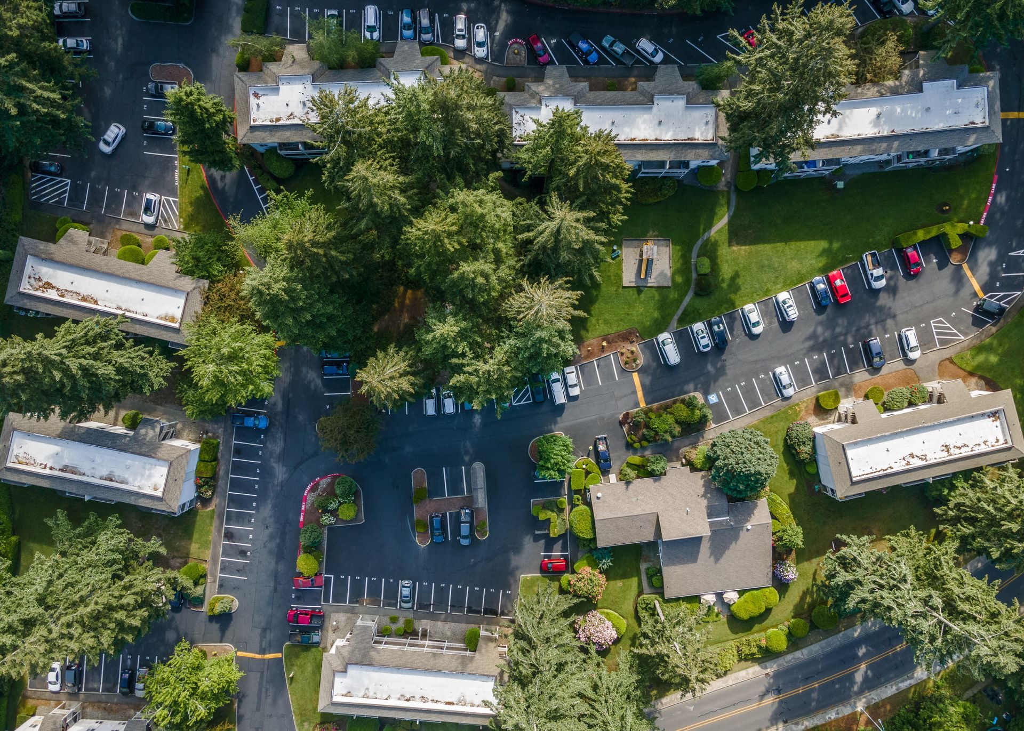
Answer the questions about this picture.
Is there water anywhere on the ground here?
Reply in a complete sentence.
No, no water is visible.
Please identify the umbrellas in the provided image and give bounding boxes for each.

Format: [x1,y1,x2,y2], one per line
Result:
[722,590,738,604]
[699,593,715,606]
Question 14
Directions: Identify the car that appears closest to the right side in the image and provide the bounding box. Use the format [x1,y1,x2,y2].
[977,296,1009,319]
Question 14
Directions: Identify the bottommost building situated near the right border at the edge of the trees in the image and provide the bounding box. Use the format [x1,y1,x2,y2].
[815,379,1024,503]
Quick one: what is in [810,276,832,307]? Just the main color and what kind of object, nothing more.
blue car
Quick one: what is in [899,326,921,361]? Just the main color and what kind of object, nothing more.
white car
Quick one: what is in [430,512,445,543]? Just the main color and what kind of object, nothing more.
blue car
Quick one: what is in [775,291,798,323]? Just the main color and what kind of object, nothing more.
white car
